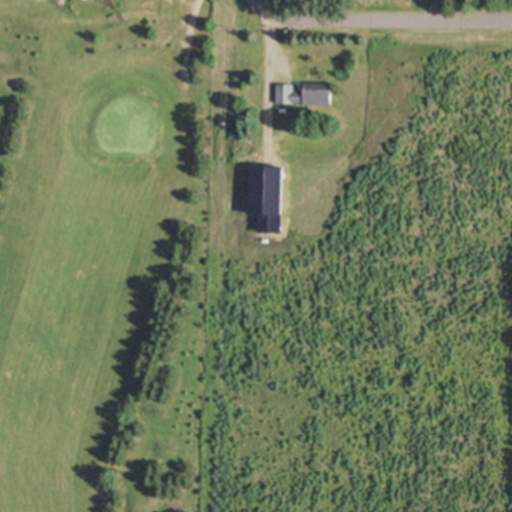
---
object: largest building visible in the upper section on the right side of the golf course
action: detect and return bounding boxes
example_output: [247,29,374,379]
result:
[248,166,285,232]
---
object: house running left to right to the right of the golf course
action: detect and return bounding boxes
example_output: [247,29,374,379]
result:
[276,82,332,106]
